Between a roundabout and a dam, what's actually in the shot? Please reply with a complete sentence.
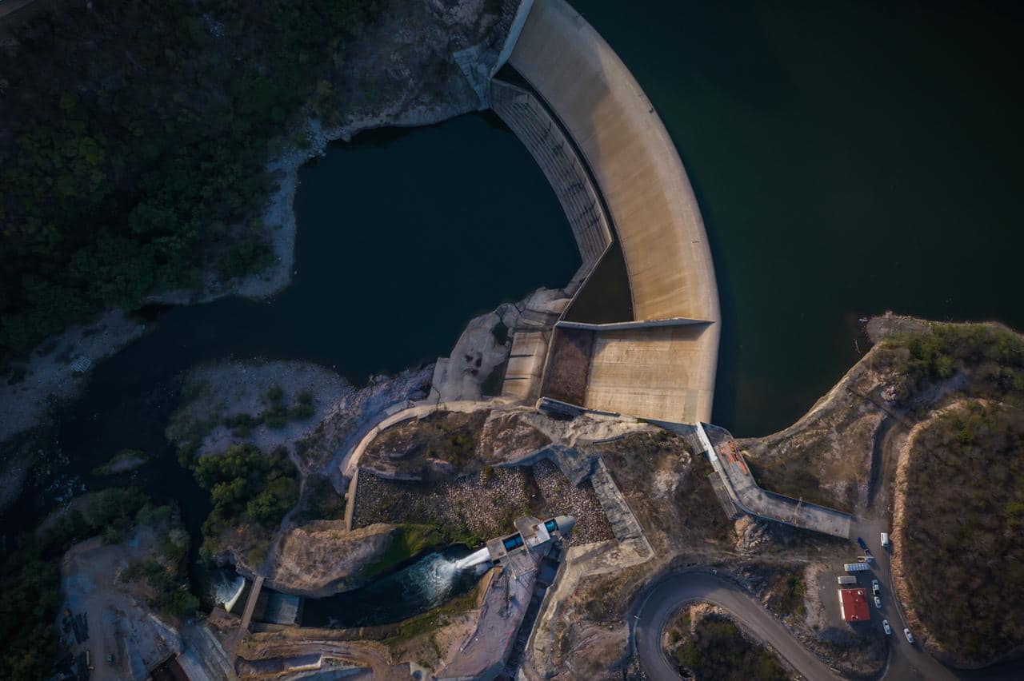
Looking from above, you can make out a dam.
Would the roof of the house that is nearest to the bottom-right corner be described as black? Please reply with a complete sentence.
No, from above the roof of the house that is nearest to the bottom-right corner looks red.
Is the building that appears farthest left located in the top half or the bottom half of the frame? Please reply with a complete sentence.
The building that appears farthest left sits in the bottom half of the picture.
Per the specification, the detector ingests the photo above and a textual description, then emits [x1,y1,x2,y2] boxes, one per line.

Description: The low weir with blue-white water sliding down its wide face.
[251,589,302,632]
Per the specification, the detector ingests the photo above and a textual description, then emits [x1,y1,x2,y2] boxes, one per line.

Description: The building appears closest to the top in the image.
[479,513,574,569]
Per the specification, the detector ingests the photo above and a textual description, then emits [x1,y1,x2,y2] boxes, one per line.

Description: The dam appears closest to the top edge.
[452,0,719,438]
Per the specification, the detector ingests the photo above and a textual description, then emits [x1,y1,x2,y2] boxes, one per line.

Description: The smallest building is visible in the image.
[837,585,870,622]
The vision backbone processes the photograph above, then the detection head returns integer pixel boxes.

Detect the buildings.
[837,585,870,622]
[479,513,574,569]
